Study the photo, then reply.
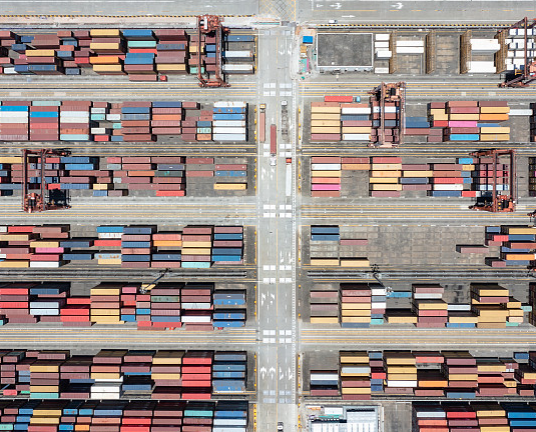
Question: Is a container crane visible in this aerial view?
Yes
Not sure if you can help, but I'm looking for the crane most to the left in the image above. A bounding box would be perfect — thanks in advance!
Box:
[23,149,72,214]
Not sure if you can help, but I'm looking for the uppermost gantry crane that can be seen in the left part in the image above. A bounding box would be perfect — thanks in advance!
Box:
[195,13,230,86]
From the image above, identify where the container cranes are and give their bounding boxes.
[468,149,517,215]
[195,13,230,86]
[495,12,536,86]
[366,80,406,147]
[23,149,72,214]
